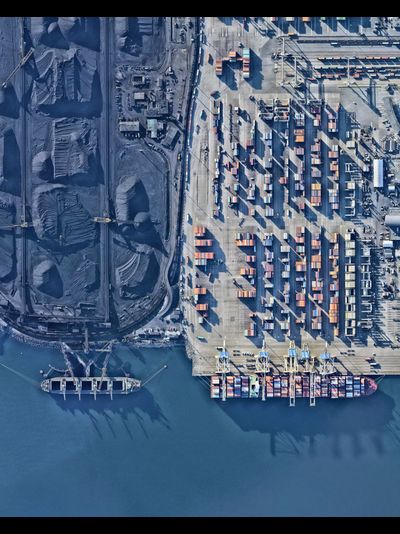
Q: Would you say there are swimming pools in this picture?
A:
No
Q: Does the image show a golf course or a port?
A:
port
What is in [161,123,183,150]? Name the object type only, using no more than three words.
building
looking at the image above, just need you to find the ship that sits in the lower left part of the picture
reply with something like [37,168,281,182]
[41,377,141,401]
